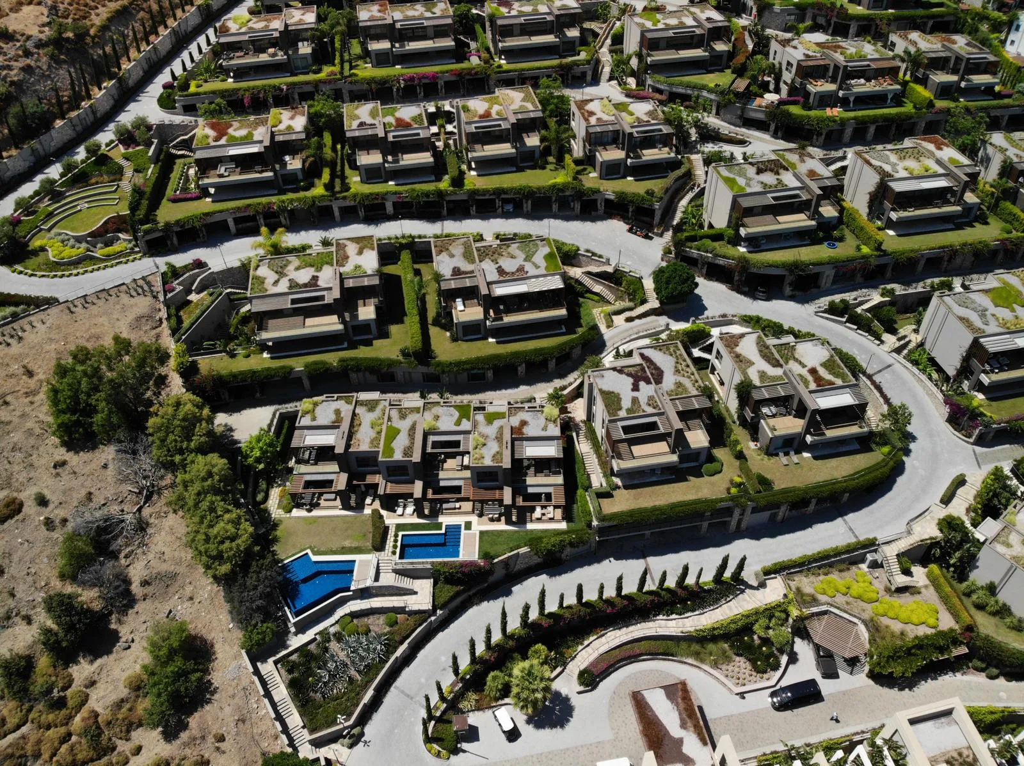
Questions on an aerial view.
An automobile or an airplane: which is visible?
automobile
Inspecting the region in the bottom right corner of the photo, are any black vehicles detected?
Yes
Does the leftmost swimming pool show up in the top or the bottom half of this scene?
bottom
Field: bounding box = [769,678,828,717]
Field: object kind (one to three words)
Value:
car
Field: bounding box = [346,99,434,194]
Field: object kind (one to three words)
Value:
house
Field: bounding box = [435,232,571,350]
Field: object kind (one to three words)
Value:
house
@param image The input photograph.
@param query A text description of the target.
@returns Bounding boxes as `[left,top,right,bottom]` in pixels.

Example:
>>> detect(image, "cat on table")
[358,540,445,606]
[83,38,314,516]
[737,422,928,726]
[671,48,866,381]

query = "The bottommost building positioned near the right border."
[870,697,997,766]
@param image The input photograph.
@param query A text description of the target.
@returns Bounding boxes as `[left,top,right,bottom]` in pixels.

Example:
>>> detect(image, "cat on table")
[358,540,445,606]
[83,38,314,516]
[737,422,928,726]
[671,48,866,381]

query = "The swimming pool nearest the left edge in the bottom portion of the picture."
[281,549,376,627]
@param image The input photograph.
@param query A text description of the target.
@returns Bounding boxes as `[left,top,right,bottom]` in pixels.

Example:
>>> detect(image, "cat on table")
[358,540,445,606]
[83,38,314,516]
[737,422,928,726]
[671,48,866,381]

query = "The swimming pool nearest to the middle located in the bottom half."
[396,522,479,572]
